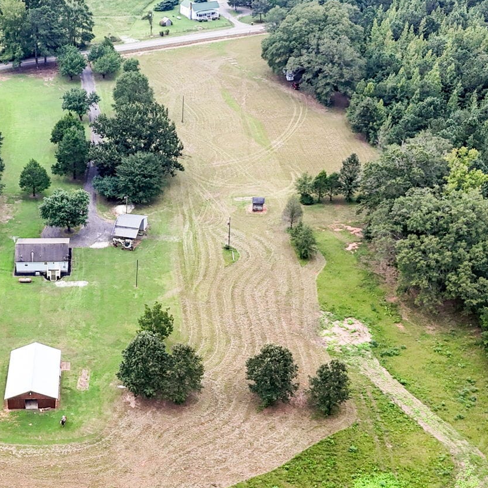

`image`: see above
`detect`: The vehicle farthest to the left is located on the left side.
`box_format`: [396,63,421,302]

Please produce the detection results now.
[110,236,131,249]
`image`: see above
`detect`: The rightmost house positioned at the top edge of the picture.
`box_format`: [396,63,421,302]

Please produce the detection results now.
[179,1,219,20]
